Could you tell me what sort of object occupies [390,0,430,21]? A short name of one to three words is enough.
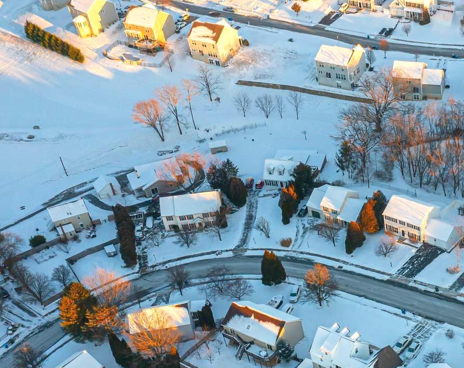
house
